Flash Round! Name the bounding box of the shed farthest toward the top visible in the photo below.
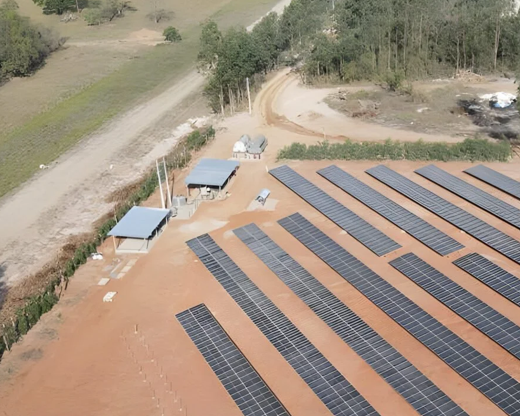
[185,158,240,197]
